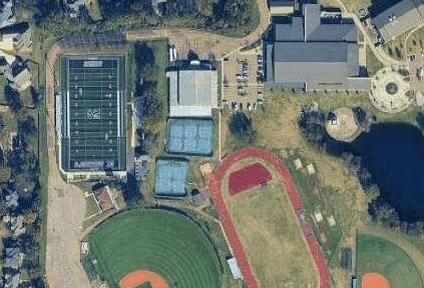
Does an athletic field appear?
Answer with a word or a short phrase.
Yes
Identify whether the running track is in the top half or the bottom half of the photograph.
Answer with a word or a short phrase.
bottom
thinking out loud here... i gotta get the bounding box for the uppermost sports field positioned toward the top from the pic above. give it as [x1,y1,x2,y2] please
[62,55,127,171]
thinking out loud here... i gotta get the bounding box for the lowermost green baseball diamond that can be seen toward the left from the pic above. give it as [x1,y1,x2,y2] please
[83,204,223,288]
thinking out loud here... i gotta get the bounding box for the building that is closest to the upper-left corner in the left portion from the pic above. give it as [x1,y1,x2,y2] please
[0,0,21,25]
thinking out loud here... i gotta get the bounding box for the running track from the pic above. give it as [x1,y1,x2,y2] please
[208,147,328,288]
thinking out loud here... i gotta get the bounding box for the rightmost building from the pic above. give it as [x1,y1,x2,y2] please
[373,0,424,41]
